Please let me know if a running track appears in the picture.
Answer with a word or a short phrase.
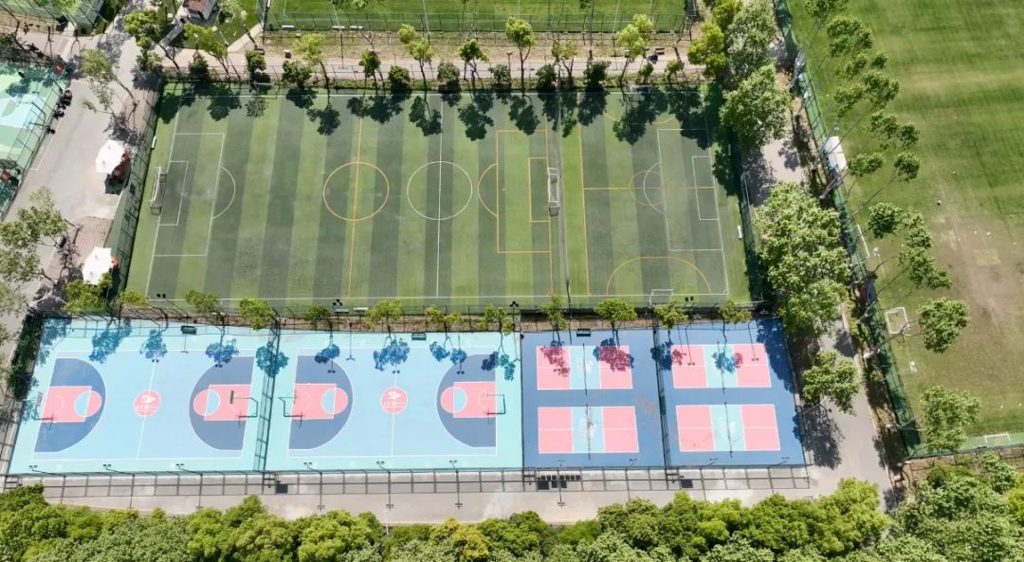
No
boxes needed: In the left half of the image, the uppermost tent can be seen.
[96,139,125,182]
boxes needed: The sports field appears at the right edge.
[785,0,1024,457]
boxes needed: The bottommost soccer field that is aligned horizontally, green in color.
[121,84,750,314]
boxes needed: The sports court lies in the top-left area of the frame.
[0,66,70,223]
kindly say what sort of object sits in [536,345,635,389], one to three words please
sports court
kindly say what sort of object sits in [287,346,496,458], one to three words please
basketball court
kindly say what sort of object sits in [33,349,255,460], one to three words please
basketball court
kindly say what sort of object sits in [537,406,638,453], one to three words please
sports court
